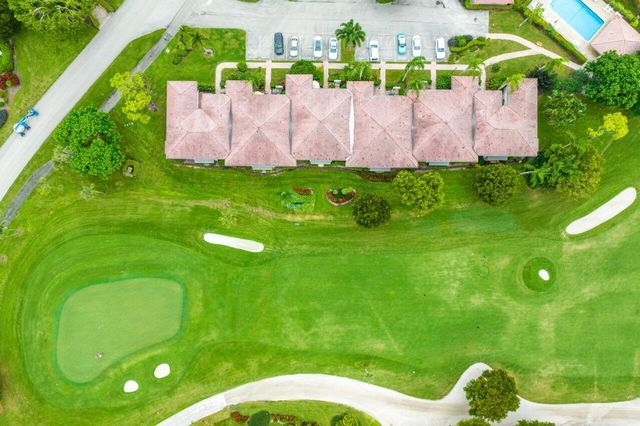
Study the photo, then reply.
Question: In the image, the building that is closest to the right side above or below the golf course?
above it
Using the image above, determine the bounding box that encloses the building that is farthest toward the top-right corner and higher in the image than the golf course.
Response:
[586,13,640,55]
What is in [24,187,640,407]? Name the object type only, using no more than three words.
golf course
